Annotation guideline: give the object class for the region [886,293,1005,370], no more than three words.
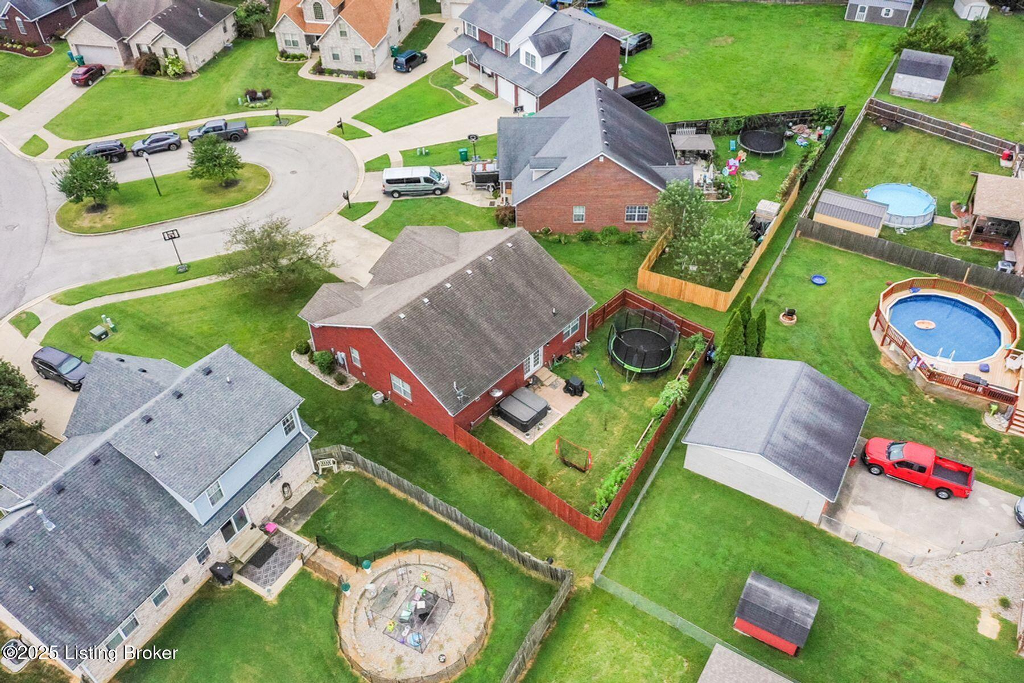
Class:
swimming pool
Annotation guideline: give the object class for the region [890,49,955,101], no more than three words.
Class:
shed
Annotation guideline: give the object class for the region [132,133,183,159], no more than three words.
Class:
car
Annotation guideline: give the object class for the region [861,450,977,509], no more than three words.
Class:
truck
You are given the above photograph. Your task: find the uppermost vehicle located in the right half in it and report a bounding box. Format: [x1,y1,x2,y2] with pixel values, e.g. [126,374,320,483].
[619,32,657,56]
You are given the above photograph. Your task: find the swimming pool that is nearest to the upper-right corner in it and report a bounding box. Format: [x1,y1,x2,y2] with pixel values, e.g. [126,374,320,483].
[864,181,942,229]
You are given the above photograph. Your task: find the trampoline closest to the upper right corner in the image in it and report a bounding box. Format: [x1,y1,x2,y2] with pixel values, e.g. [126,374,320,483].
[737,129,788,160]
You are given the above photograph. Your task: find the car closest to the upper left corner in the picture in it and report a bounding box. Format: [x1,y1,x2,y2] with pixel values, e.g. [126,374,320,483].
[68,66,112,88]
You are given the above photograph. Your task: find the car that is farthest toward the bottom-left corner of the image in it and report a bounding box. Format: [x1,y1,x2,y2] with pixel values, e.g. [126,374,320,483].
[27,343,88,394]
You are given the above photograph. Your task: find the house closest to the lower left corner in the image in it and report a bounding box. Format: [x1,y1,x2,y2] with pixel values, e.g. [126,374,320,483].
[0,346,321,683]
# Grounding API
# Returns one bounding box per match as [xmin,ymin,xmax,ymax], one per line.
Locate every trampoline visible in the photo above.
[737,129,788,160]
[607,305,678,388]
